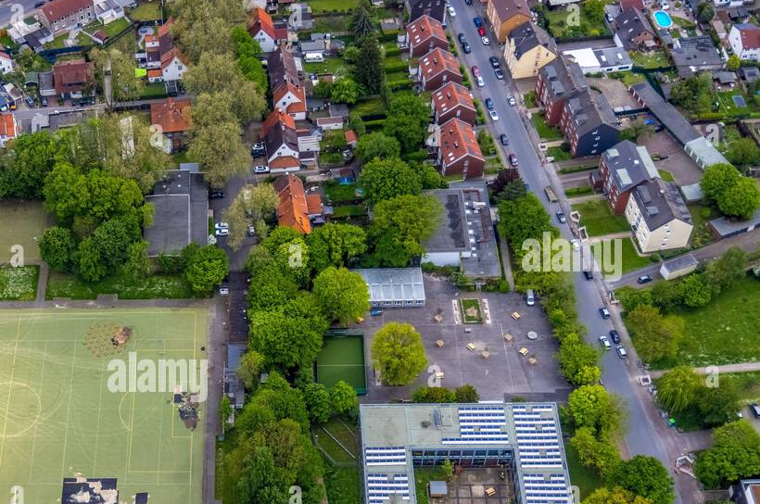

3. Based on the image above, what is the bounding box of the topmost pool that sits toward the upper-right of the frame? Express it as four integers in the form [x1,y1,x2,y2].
[652,7,675,29]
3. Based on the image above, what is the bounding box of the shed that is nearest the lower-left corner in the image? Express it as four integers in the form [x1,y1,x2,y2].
[225,373,245,405]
